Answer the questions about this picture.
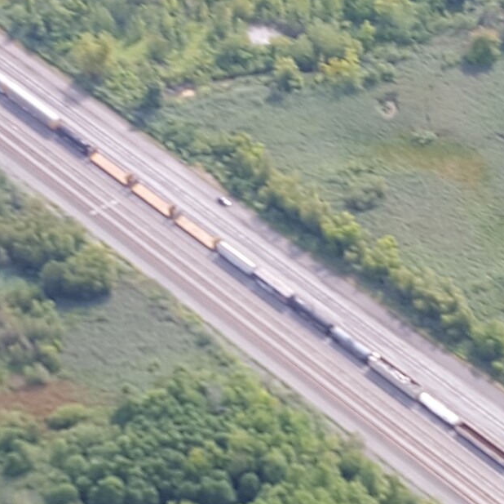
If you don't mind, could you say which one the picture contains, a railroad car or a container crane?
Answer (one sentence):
It is a railroad car that can be seen here.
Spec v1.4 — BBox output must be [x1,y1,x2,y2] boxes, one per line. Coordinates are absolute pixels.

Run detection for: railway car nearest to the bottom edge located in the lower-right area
[420,394,461,429]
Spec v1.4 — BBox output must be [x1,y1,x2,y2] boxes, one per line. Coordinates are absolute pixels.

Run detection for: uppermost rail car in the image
[58,125,93,155]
